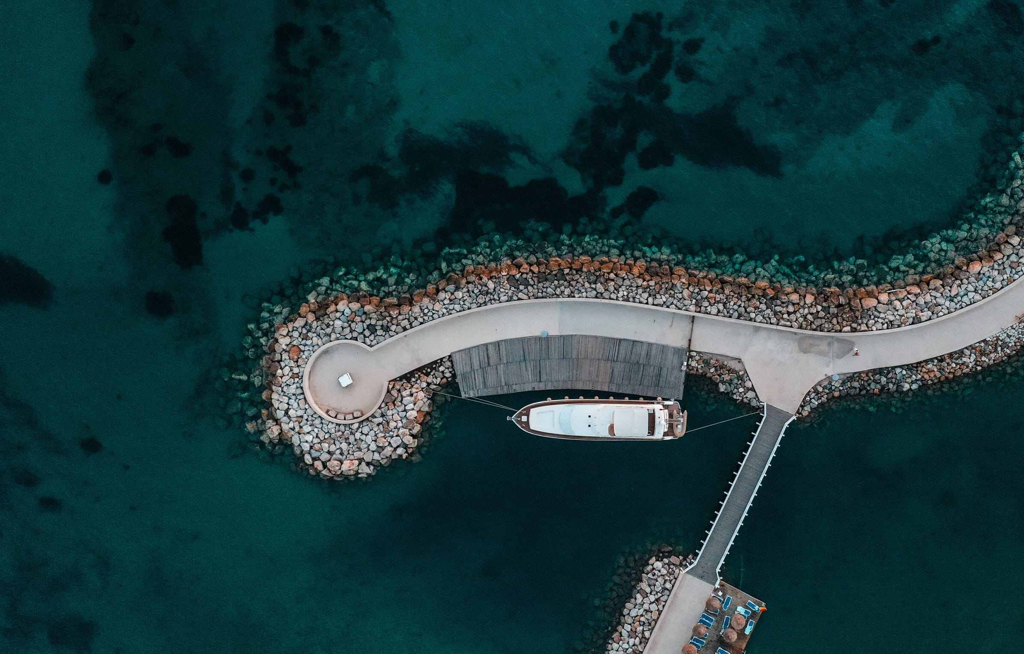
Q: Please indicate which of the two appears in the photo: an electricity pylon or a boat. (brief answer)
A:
boat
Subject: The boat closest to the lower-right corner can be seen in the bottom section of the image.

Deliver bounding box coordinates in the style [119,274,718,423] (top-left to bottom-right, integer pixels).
[673,411,687,437]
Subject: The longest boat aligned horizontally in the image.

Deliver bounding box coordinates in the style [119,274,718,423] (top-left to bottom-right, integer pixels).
[507,399,685,441]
